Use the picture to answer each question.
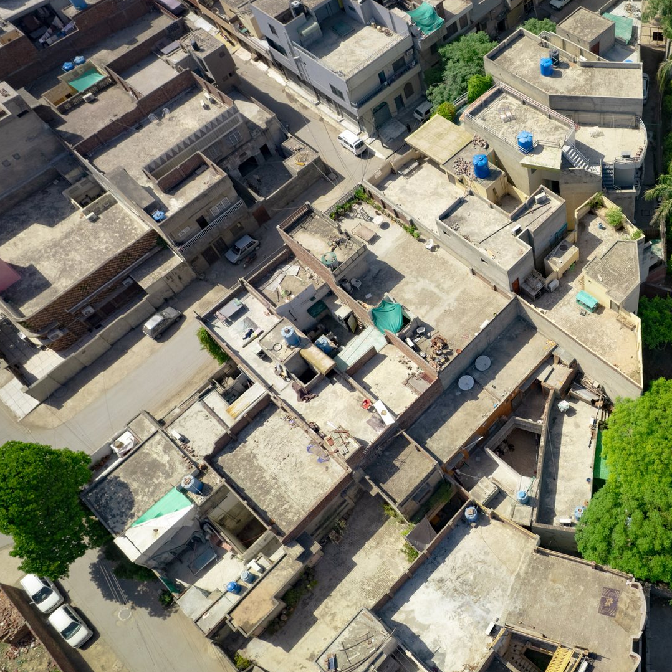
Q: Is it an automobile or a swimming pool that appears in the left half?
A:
automobile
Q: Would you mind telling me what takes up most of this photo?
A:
buildings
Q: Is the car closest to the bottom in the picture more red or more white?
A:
white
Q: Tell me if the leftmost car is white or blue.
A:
white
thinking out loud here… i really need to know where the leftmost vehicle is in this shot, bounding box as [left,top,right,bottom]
[19,573,65,617]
